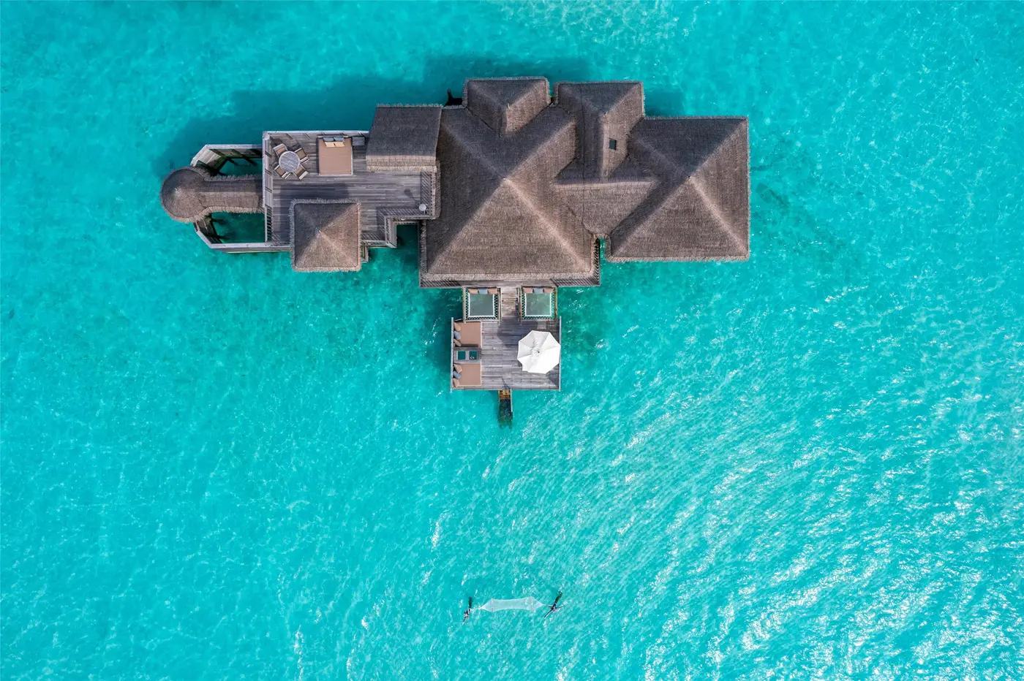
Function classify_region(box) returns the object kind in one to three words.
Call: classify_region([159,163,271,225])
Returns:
shed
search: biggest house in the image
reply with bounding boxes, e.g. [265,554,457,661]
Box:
[419,74,753,287]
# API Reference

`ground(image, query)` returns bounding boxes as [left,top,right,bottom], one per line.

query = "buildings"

[287,197,364,273]
[419,74,753,287]
[159,163,271,225]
